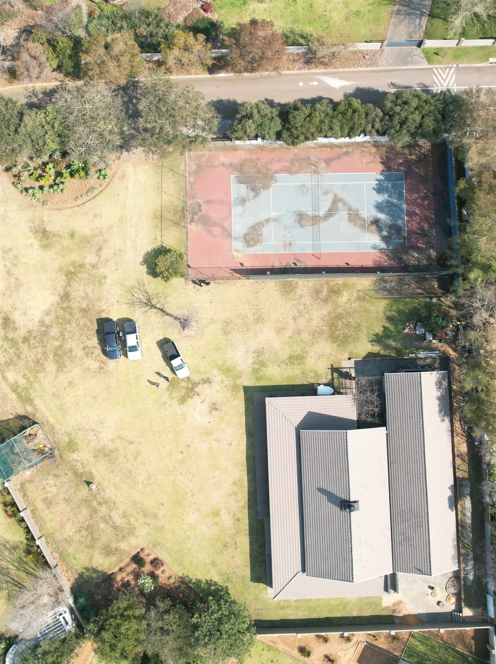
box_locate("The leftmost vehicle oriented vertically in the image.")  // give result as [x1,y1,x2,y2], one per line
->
[103,320,123,361]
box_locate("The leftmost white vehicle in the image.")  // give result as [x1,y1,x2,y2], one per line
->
[124,320,143,361]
